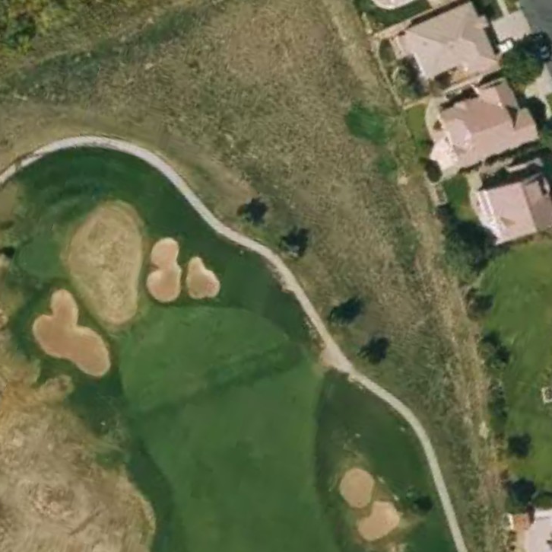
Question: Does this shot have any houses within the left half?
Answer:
No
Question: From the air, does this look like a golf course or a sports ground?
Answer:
golf course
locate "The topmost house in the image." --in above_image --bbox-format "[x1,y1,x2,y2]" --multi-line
[395,0,501,84]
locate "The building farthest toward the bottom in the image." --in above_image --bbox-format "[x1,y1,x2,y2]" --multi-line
[475,175,552,243]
